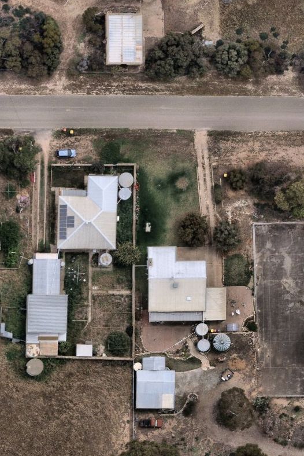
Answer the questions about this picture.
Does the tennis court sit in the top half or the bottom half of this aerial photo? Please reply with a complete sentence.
Seen from above, the tennis court lies in the bottom half of the view.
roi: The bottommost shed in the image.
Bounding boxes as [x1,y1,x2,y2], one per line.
[136,370,175,410]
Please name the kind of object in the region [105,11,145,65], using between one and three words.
shed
